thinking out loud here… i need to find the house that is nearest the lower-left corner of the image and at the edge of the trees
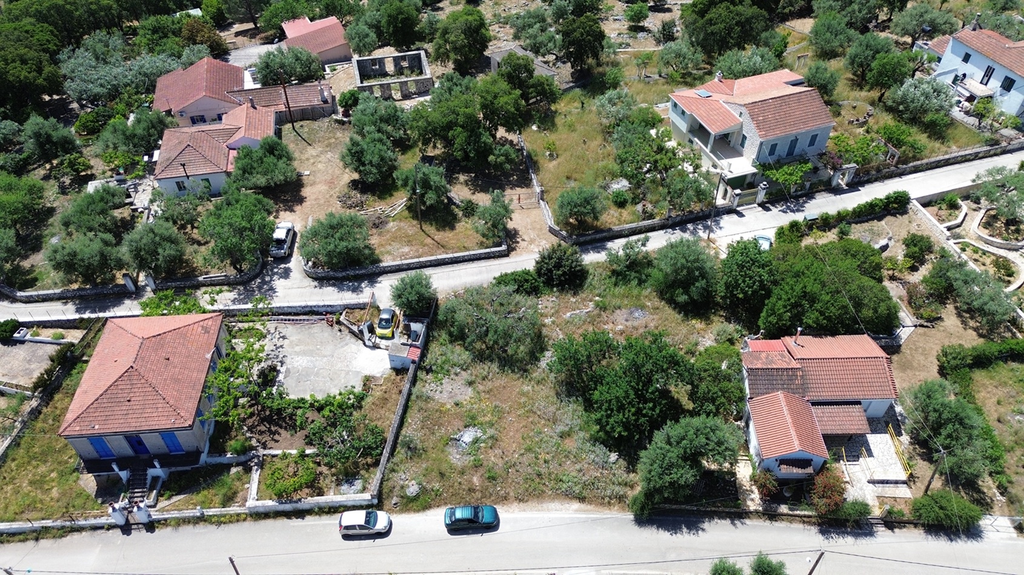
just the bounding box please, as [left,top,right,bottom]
[57,311,227,519]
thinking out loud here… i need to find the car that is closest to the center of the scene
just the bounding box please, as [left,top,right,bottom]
[377,308,402,336]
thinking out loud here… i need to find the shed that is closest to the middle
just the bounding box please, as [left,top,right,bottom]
[388,341,424,374]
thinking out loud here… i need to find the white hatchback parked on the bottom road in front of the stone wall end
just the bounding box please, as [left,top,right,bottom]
[336,509,391,539]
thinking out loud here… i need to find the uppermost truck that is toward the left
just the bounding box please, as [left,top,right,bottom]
[263,223,296,257]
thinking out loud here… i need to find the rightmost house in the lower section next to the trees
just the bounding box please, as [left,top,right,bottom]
[734,327,912,489]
